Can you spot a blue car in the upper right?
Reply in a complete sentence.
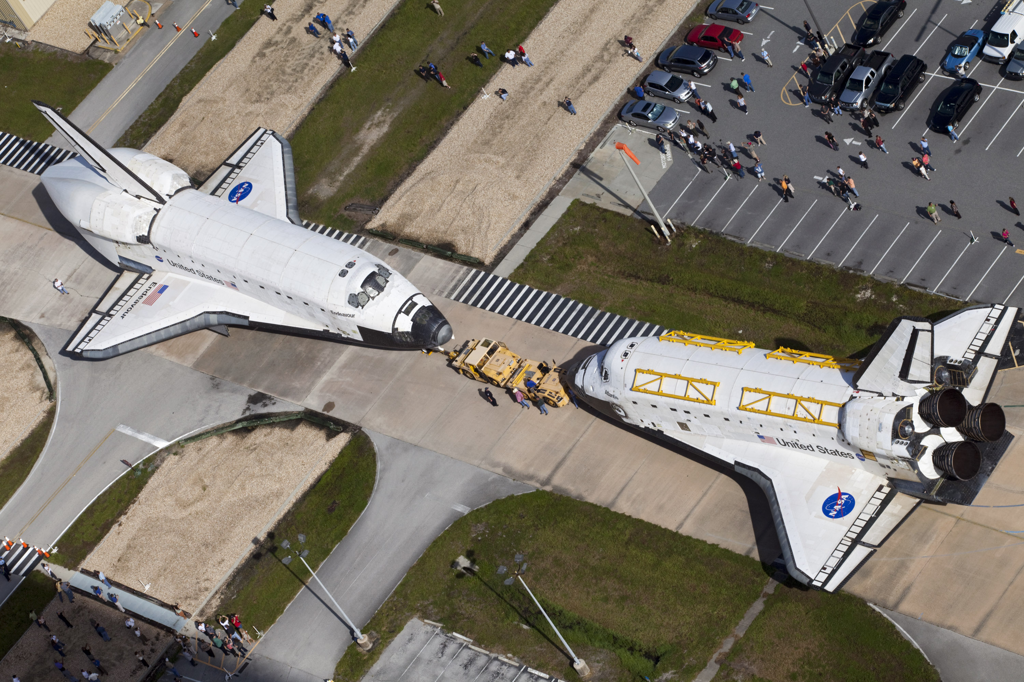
Yes, looking in the upper right, one can make out a blue car.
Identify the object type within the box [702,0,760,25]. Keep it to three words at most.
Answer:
car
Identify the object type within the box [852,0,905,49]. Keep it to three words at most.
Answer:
car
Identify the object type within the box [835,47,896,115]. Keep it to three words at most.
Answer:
vehicle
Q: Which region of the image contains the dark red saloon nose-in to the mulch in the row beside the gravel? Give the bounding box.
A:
[682,18,743,52]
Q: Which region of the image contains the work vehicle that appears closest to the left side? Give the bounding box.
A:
[449,337,522,389]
